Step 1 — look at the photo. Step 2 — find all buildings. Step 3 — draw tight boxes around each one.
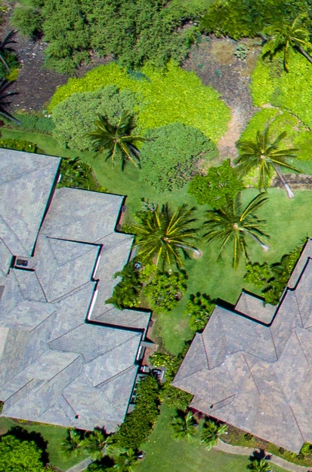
[0,147,154,435]
[171,239,312,455]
